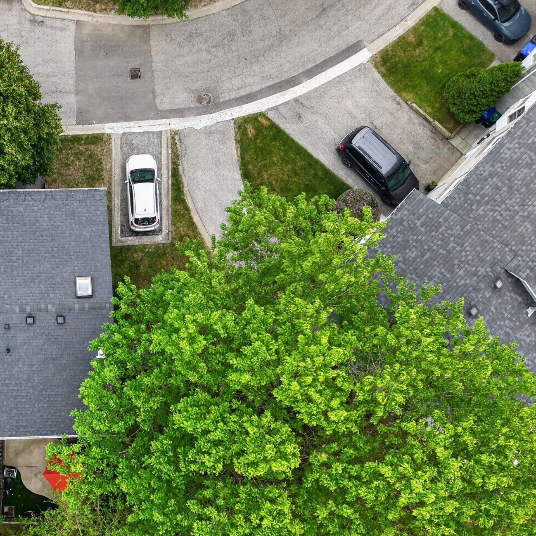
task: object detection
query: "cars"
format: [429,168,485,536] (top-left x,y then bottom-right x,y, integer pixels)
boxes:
[123,154,162,233]
[458,0,536,46]
[333,116,414,210]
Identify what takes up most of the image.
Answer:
trees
